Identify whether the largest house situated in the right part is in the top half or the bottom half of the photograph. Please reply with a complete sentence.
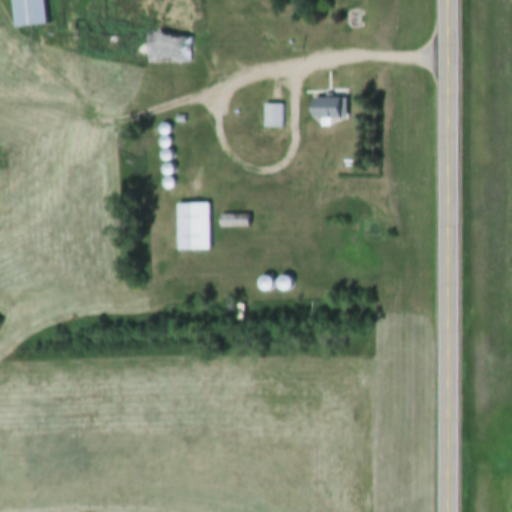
The largest house situated in the right part sits in the top half of the picture.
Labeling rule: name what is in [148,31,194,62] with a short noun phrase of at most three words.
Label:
barn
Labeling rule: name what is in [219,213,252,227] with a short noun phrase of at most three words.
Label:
shed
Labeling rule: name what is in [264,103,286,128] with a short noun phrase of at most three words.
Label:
shed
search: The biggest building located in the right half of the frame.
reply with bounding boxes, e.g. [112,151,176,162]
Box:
[310,92,348,127]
